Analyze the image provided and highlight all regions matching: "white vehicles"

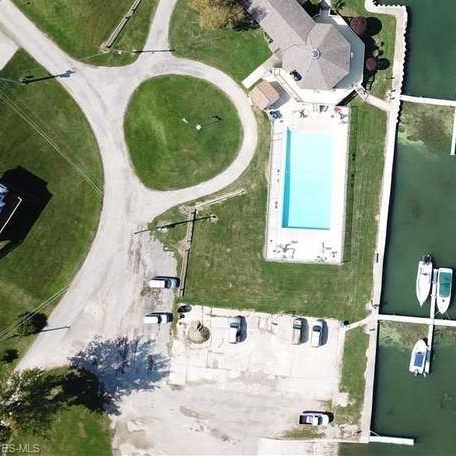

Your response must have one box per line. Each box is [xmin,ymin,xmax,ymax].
[140,314,169,327]
[308,320,322,349]
[224,317,239,345]
[146,278,176,291]
[297,413,329,429]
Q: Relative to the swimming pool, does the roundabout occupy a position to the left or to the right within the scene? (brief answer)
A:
to the left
